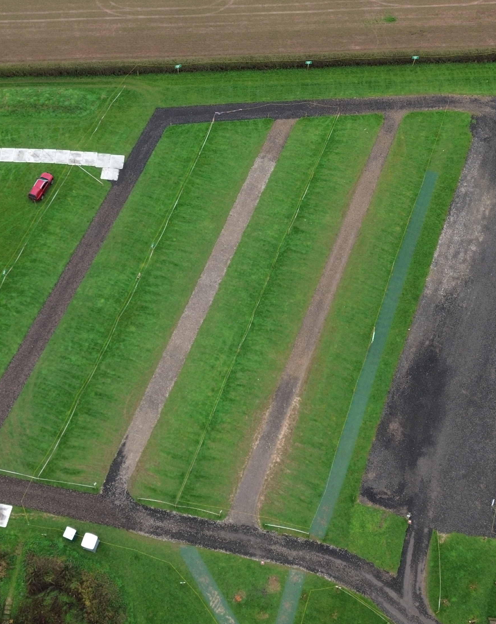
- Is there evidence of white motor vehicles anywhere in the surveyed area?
No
